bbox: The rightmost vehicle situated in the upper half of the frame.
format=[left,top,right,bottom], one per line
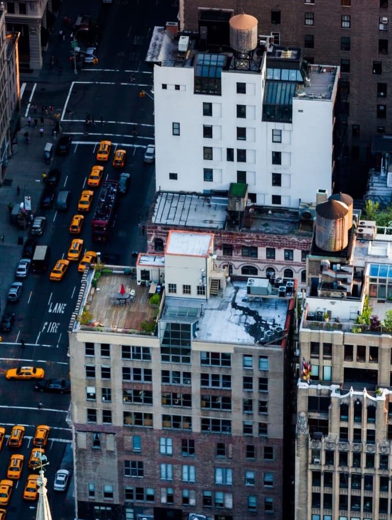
[142,145,156,166]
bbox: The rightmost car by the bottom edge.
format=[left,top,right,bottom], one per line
[51,469,72,495]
